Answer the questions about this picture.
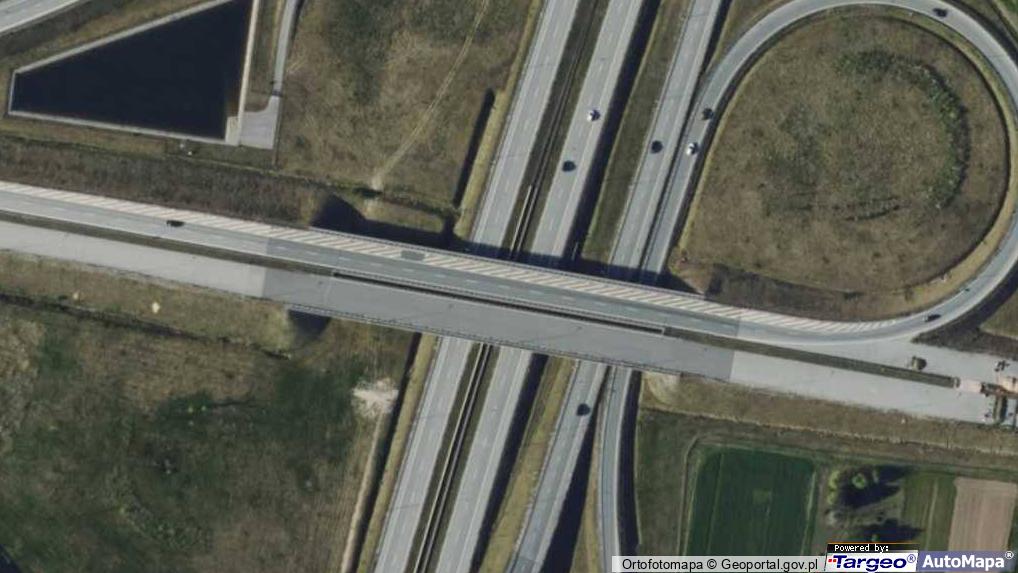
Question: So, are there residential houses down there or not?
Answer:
No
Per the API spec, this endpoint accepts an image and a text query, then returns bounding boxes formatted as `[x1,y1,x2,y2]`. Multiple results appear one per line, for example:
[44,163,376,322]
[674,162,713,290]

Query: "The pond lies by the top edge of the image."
[9,0,258,147]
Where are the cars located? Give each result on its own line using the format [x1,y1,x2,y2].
[578,405,586,417]
[650,141,657,153]
[166,220,179,226]
[933,8,944,16]
[700,108,709,120]
[926,314,937,321]
[564,161,571,173]
[687,144,694,156]
[587,111,594,122]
